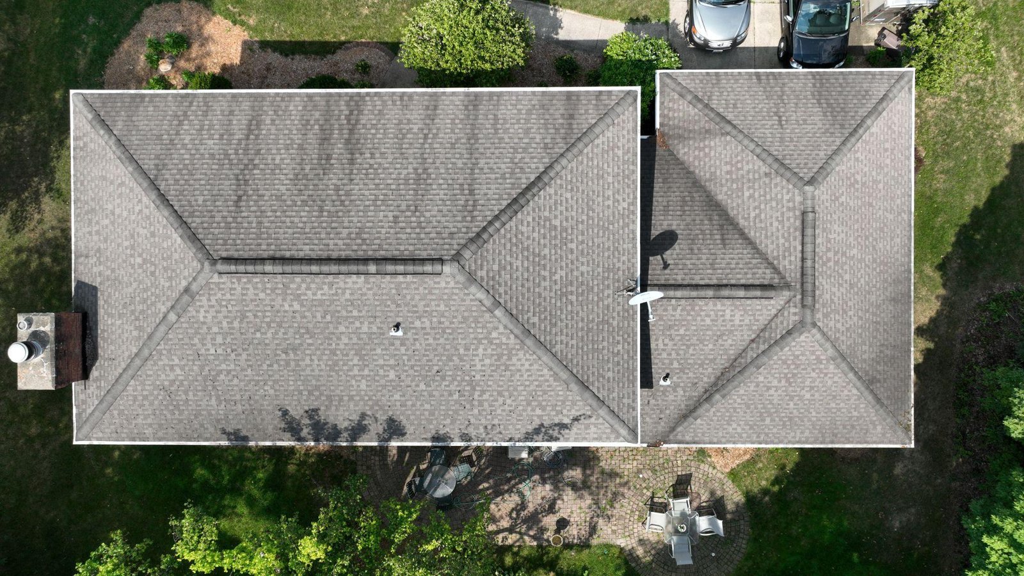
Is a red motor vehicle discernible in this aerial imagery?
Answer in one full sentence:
No, there isn't any red motor vehicle down there.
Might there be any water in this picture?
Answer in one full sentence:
No, the scene doesn't show any water.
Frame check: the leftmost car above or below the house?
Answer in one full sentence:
In the image, the leftmost car appears above the house.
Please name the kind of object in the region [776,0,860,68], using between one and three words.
car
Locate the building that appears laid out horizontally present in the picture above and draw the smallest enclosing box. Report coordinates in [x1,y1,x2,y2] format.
[10,68,915,447]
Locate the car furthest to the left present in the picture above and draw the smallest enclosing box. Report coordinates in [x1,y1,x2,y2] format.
[682,0,753,54]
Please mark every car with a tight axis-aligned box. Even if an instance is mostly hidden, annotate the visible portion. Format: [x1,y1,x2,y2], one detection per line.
[682,0,753,54]
[776,0,860,68]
